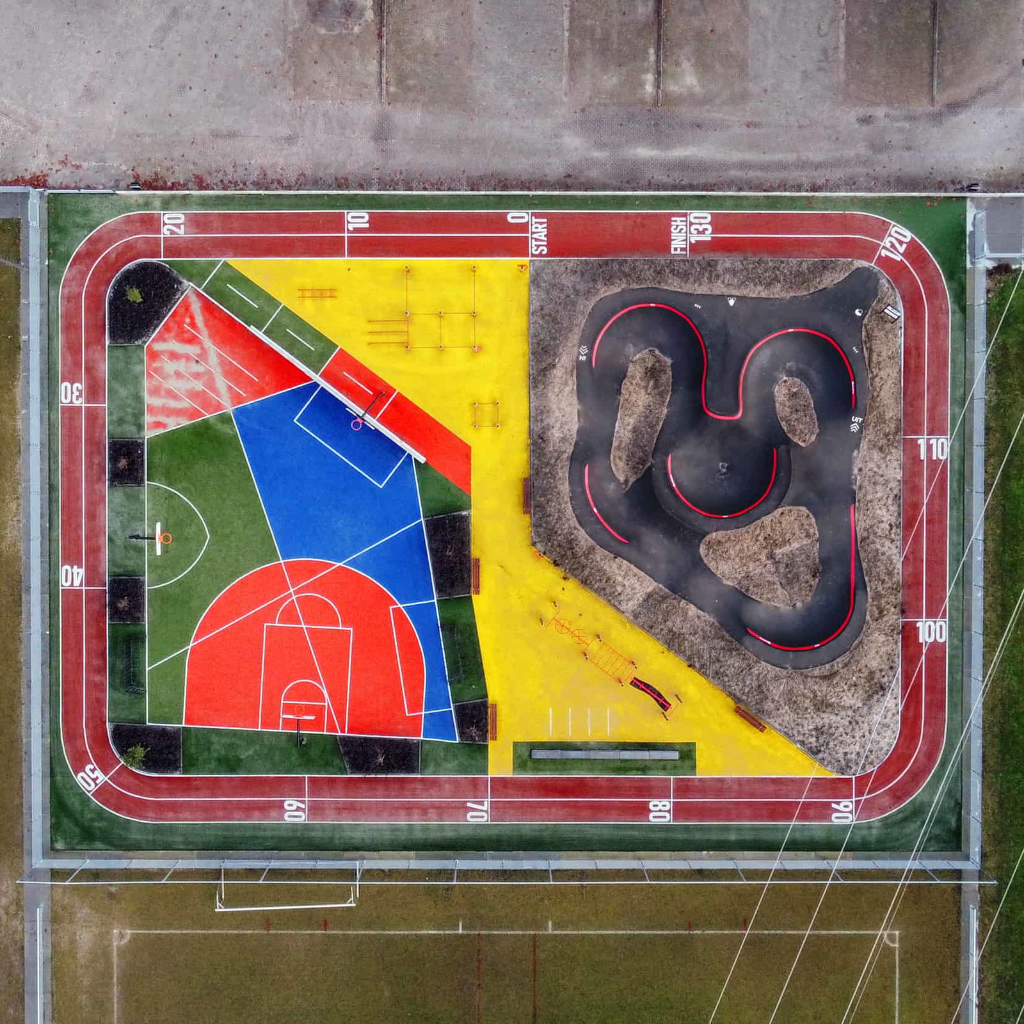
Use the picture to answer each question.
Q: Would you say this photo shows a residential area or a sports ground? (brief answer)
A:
sports ground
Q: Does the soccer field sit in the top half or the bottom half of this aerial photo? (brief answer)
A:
bottom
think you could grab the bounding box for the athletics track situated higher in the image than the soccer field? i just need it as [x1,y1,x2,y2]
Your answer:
[59,211,951,824]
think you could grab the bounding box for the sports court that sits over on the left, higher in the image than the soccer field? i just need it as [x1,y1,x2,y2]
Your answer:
[146,284,459,743]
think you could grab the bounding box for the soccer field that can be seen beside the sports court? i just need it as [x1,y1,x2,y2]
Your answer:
[51,870,961,1024]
